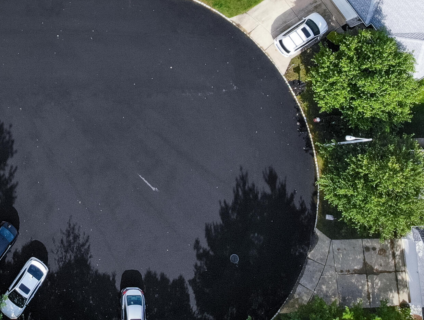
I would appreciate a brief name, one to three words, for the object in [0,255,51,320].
car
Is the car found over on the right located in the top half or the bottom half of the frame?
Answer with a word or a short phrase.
top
